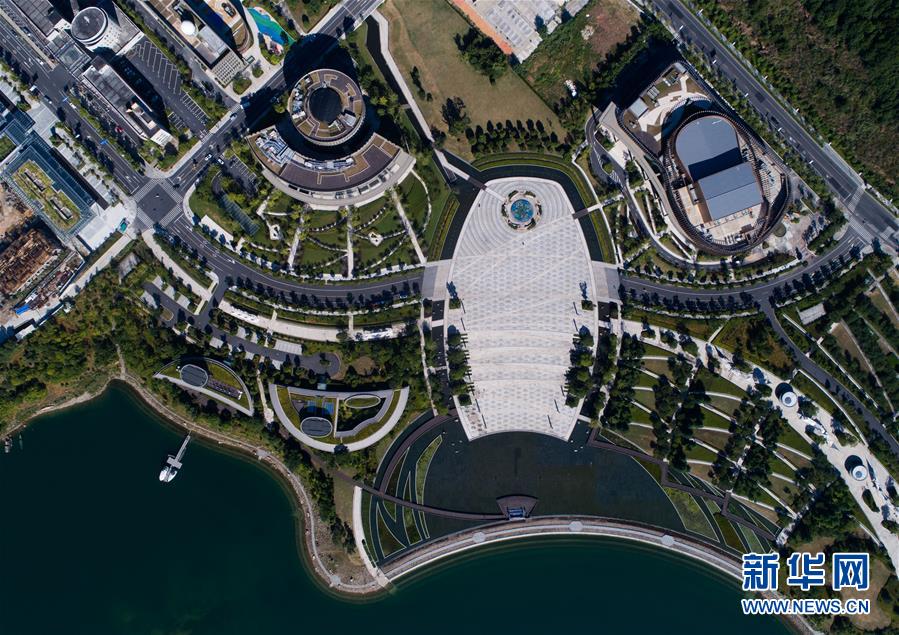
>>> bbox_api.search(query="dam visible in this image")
[380,516,824,635]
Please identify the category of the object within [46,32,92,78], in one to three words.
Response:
building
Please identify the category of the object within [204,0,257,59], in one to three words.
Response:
building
